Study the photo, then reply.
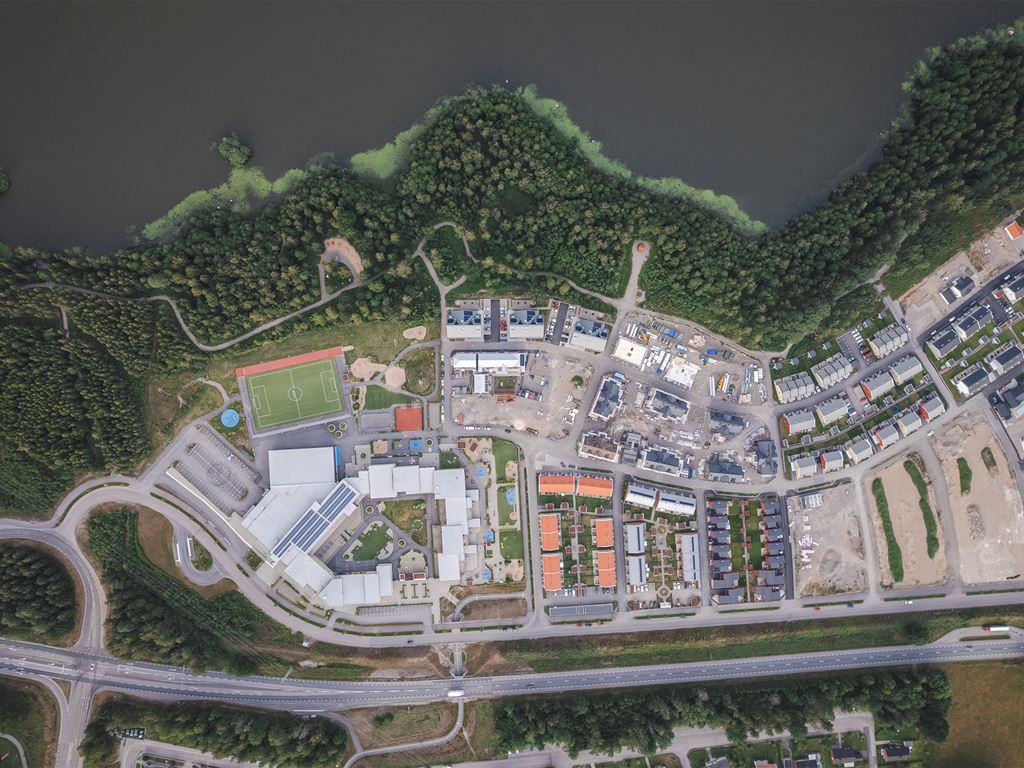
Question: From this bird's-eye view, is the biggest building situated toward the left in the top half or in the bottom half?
bottom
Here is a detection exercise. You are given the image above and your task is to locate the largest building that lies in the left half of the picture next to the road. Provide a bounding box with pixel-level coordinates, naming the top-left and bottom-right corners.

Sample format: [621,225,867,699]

[242,446,481,607]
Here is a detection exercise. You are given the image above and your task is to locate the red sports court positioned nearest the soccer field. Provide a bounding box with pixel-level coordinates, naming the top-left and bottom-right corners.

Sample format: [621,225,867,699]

[396,406,422,432]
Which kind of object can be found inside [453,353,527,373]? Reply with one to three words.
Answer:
building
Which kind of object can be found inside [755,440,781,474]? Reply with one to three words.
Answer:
house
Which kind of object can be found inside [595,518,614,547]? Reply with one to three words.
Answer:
house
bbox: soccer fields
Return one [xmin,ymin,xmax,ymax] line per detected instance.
[237,354,351,438]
